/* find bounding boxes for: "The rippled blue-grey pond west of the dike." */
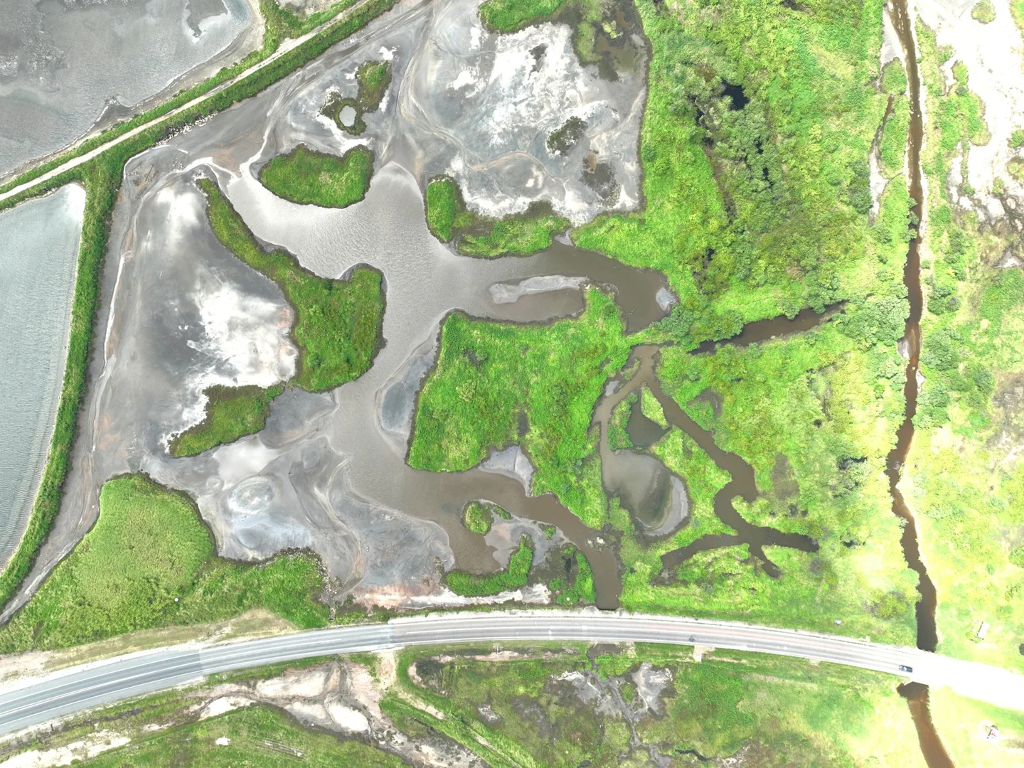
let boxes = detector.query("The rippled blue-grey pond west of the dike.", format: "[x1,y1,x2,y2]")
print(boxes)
[0,186,82,570]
